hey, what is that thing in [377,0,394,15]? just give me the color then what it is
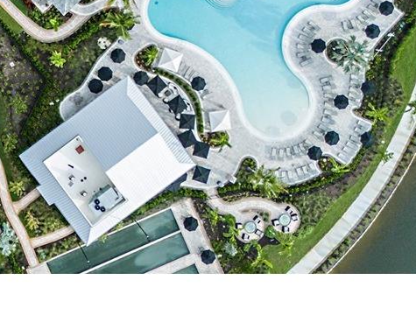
black umbrella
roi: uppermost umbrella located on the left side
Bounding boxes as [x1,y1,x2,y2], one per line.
[110,48,127,64]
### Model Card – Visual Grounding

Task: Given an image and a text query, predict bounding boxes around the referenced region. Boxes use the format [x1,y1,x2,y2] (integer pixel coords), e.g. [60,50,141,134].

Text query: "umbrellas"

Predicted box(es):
[190,164,211,184]
[199,248,216,264]
[331,93,348,109]
[166,93,188,116]
[176,129,197,149]
[96,66,112,81]
[322,131,339,146]
[361,23,380,39]
[306,145,322,160]
[178,113,195,130]
[190,139,212,160]
[146,75,168,97]
[133,70,149,86]
[355,130,373,146]
[359,80,376,96]
[309,38,325,54]
[182,215,197,231]
[190,76,205,91]
[88,78,102,93]
[377,0,394,15]
[110,48,127,64]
